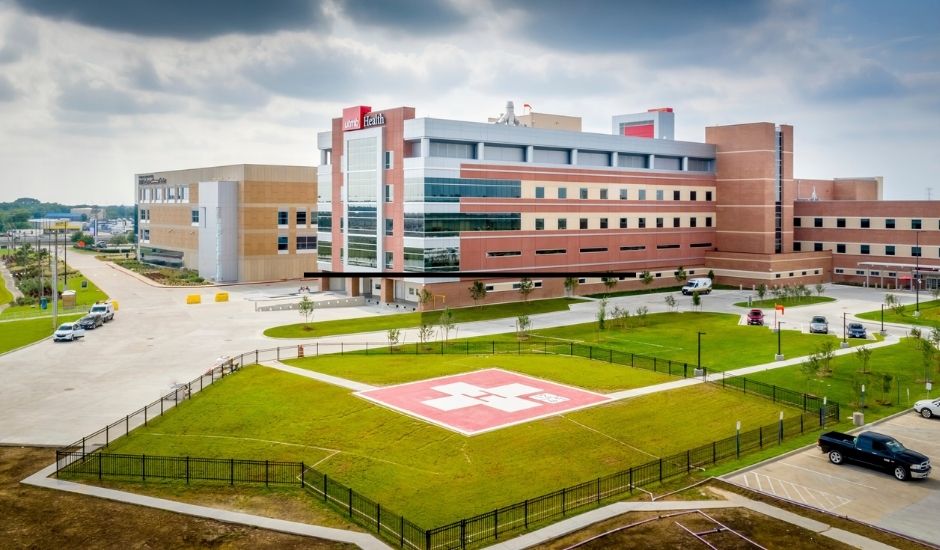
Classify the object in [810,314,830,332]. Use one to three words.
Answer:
car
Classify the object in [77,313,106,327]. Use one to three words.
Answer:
vehicle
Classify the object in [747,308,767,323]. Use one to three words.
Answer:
car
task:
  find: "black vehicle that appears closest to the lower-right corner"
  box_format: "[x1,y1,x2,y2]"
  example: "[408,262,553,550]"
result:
[815,432,933,481]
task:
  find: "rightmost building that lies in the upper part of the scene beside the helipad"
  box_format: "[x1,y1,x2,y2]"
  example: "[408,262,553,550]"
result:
[318,103,940,305]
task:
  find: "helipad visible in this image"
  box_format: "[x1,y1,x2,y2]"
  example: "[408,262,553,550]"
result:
[352,367,616,435]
